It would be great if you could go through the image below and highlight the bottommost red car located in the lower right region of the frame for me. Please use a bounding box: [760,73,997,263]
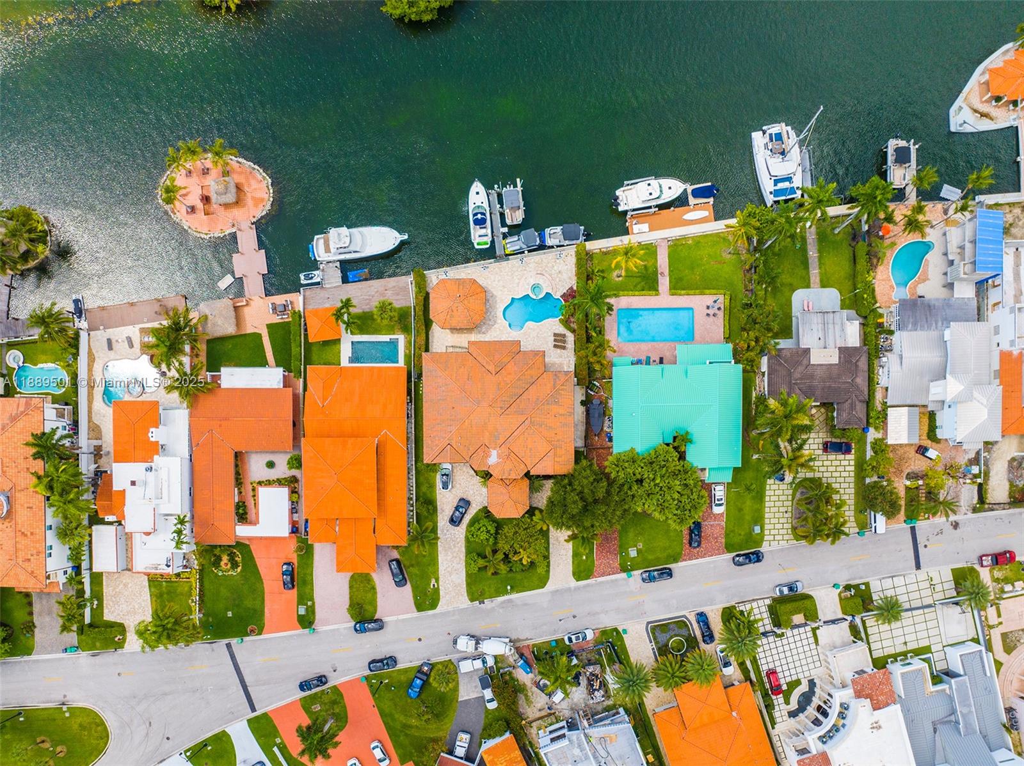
[766,670,784,699]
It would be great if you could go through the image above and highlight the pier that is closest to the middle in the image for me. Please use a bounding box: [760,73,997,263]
[488,188,503,257]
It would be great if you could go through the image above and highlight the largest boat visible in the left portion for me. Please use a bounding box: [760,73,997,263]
[311,225,403,260]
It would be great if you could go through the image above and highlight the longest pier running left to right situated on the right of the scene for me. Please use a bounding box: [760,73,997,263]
[625,201,715,235]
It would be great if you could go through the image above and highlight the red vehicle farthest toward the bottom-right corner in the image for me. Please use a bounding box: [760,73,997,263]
[980,551,1020,568]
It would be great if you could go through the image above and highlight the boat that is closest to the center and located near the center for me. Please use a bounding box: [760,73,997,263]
[588,396,604,441]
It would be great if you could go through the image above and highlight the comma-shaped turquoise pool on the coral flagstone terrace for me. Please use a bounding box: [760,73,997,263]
[888,239,935,301]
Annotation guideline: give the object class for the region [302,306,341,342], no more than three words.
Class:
building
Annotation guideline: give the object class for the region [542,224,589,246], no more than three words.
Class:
boat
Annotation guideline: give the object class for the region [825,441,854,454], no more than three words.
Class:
vehicle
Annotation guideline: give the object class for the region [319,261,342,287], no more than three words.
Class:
pier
